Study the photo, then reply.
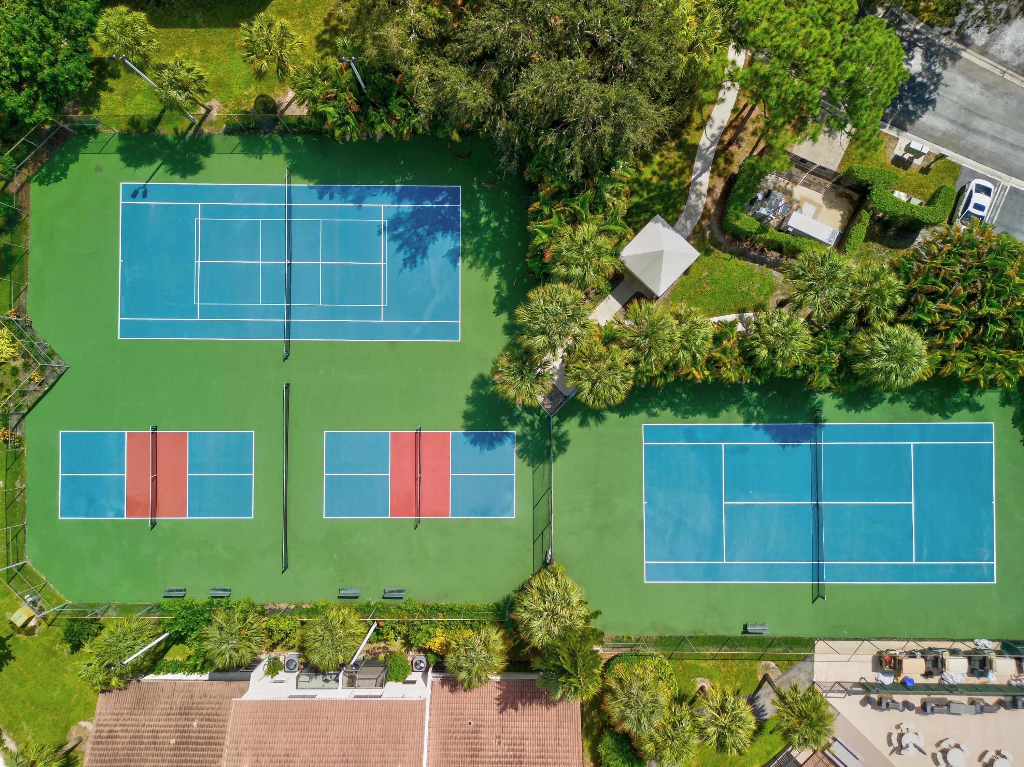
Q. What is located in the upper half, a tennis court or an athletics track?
tennis court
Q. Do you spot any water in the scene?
No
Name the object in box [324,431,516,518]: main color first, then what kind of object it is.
blue sports court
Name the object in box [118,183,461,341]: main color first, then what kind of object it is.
blue tennis court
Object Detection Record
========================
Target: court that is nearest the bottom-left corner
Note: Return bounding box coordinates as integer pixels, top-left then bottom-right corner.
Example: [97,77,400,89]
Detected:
[59,431,254,519]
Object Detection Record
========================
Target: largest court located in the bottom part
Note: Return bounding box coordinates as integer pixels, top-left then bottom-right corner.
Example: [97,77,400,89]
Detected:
[643,422,996,583]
